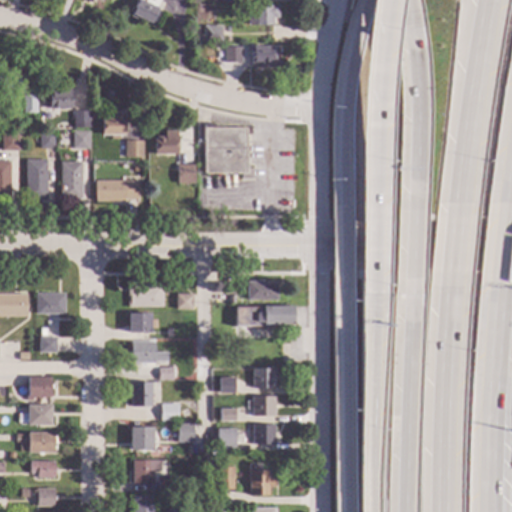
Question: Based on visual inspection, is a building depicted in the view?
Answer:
Yes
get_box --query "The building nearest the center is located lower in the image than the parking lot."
[249,278,281,300]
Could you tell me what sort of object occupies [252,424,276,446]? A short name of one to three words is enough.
house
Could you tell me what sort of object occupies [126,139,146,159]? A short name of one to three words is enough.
building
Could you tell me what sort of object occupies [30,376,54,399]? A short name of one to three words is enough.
house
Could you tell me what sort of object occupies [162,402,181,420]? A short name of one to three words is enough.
building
